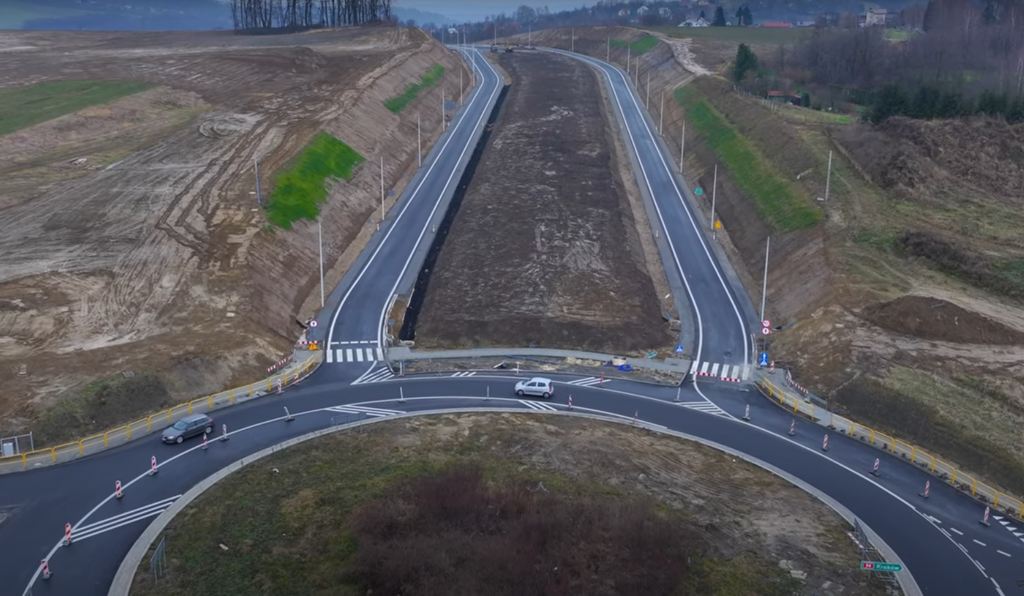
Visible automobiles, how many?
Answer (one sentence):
The photo contains 2 automobiles.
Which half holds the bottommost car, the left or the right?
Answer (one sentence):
You can find the bottommost car on the left side of the picture.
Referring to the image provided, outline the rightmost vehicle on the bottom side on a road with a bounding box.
[514,376,555,397]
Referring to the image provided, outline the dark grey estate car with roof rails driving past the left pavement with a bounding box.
[160,411,216,443]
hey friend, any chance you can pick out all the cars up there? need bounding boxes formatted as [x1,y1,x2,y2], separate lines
[514,376,555,397]
[160,411,216,443]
